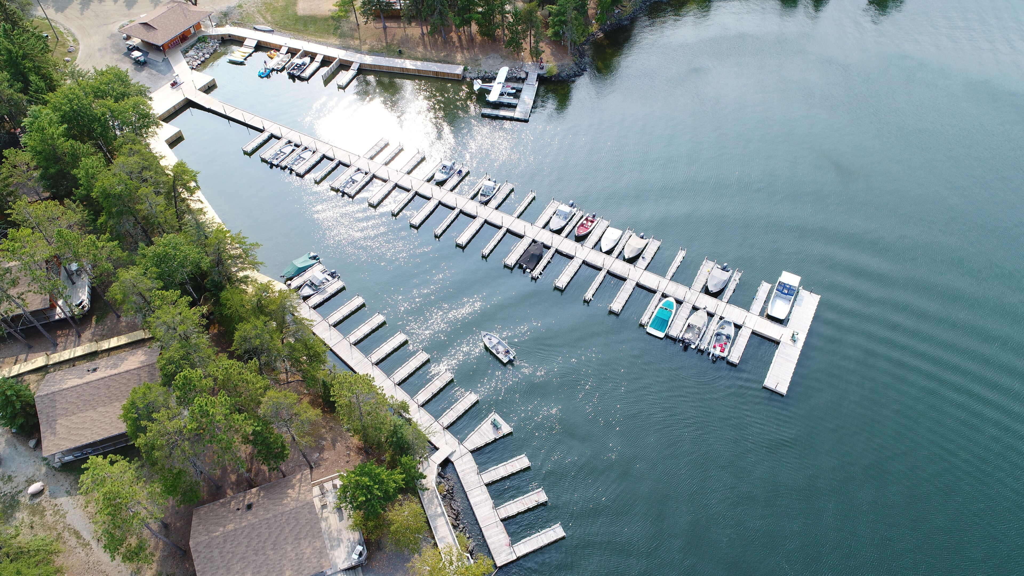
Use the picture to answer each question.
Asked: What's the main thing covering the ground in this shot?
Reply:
water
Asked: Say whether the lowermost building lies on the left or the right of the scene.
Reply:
left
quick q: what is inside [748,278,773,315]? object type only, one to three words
pier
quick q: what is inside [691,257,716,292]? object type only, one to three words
pier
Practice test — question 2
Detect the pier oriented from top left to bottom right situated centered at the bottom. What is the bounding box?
[297,302,518,567]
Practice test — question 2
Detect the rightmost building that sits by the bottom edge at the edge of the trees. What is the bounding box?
[189,470,333,576]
